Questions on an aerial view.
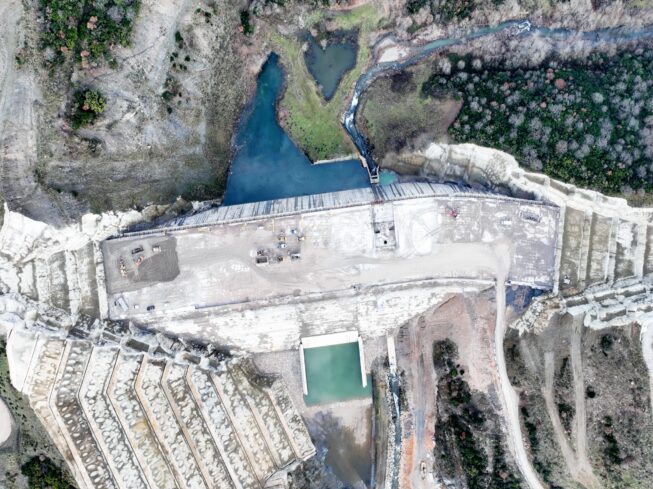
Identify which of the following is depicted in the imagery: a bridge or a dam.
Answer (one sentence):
There is a dam in the scene.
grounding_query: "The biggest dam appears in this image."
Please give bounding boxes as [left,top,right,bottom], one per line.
[103,182,560,354]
